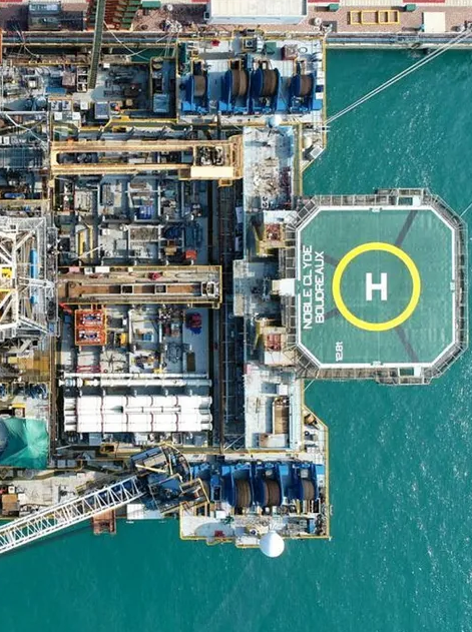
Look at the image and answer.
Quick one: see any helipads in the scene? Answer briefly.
Yes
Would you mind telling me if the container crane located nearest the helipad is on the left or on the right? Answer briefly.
left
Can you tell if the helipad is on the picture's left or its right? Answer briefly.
right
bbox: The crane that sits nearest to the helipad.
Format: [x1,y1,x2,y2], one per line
[49,136,245,189]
